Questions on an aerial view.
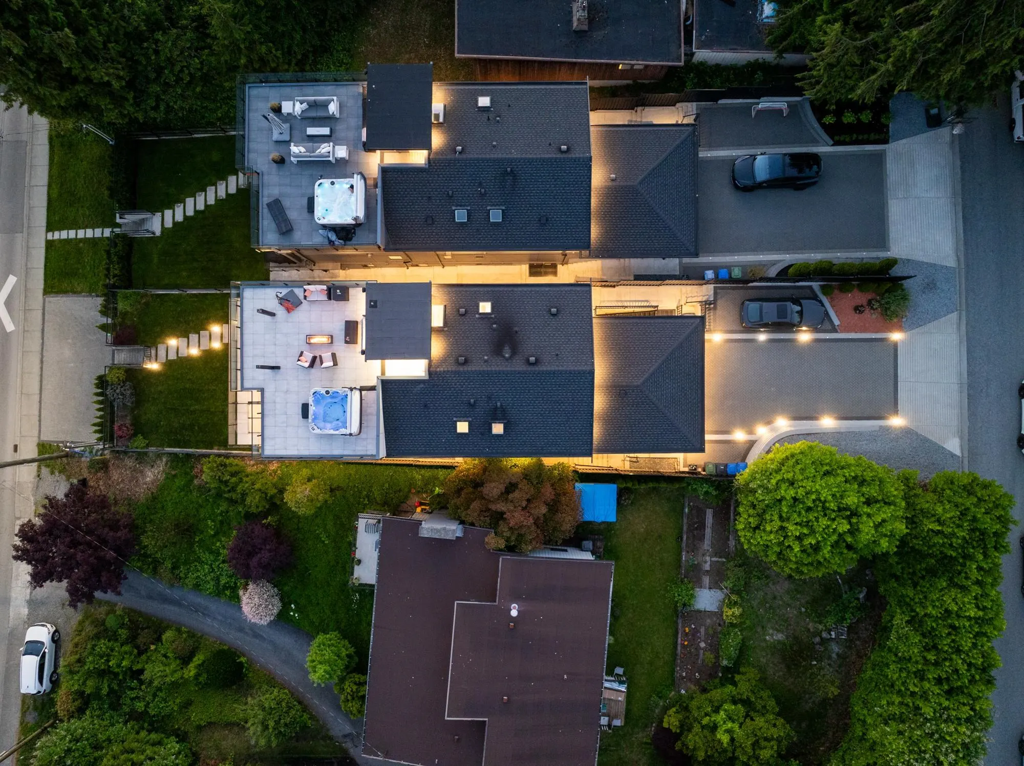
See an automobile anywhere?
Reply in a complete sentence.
Yes, looking at the shot, I can spot an automobile.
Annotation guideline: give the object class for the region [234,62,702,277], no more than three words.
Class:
house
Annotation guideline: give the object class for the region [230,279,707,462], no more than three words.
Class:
house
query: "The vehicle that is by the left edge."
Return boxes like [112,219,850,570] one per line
[16,623,60,700]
